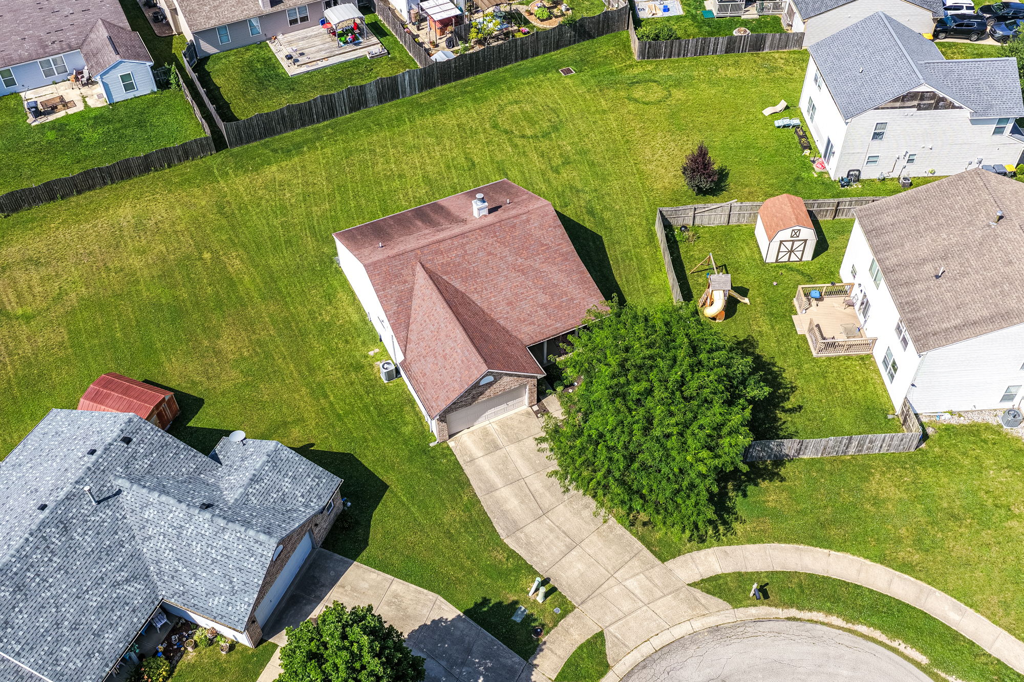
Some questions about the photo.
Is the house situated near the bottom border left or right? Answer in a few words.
left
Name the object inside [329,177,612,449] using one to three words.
house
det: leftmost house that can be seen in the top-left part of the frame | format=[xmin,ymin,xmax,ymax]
[0,0,158,103]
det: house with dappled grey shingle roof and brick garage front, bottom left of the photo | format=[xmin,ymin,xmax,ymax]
[0,411,346,682]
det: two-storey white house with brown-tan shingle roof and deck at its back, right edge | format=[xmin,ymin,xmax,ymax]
[839,167,1024,416]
